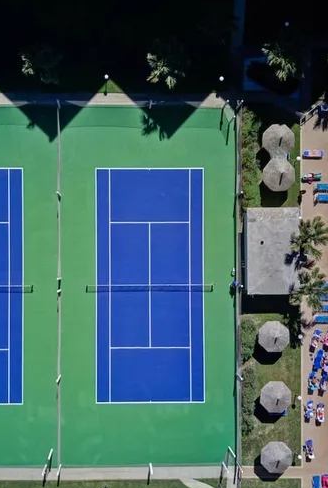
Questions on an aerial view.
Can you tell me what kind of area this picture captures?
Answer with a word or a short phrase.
sports ground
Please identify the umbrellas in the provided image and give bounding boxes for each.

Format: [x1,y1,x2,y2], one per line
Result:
[260,441,292,474]
[259,380,292,414]
[262,125,295,157]
[262,157,295,191]
[257,320,291,353]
